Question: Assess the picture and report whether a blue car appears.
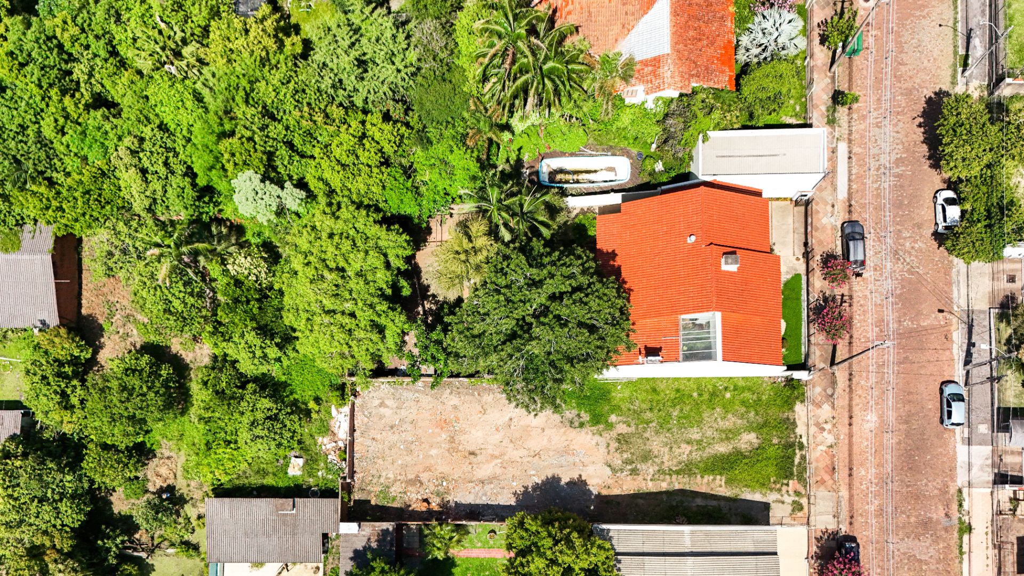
No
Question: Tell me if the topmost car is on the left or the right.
right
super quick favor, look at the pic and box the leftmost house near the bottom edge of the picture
[204,498,347,563]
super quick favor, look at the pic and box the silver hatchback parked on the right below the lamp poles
[939,382,970,429]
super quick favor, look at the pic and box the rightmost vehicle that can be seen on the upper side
[933,187,964,236]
